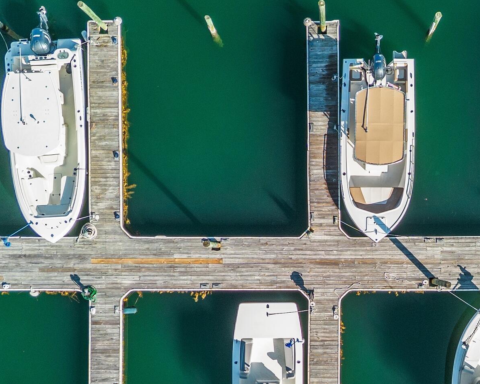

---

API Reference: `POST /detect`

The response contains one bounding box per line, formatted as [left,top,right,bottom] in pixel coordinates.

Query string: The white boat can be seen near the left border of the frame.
[2,3,88,244]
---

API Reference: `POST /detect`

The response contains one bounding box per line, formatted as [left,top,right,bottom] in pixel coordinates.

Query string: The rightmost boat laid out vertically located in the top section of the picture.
[339,32,415,243]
